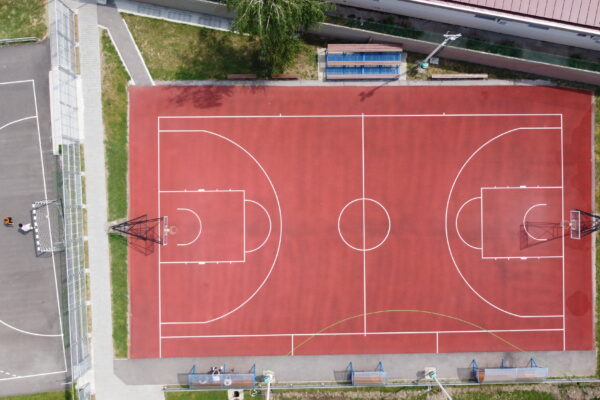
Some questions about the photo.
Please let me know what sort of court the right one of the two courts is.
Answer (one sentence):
From above, the right one of the two courts can be identified as a basketball court.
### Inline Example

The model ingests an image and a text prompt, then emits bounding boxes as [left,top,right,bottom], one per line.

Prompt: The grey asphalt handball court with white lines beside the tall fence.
[0,37,90,396]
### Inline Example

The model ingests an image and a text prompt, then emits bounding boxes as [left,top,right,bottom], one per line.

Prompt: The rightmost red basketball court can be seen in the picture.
[128,86,594,365]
